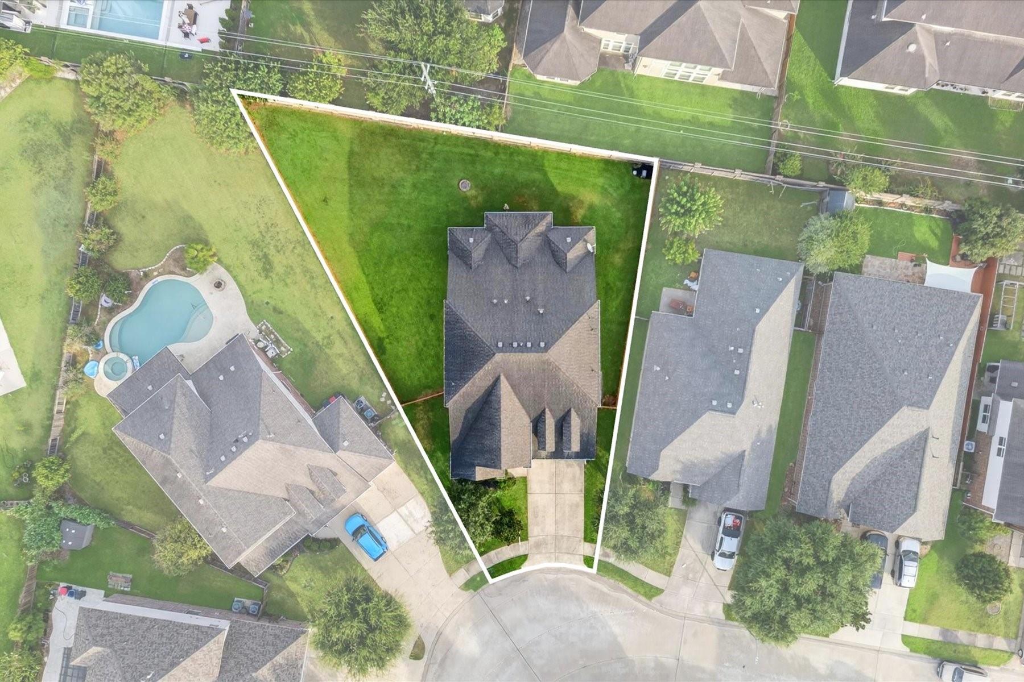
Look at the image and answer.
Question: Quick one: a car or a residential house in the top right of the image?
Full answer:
It is a residential house that can be seen in the top right of the image.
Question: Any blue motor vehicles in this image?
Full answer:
Yes, there is a blue motor vehicle in the image.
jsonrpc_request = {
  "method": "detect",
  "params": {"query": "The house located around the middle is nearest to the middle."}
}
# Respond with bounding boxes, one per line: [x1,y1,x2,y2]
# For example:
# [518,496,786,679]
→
[442,211,602,481]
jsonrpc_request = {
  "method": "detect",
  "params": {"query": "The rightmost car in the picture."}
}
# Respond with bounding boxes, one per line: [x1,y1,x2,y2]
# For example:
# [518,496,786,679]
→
[933,656,993,682]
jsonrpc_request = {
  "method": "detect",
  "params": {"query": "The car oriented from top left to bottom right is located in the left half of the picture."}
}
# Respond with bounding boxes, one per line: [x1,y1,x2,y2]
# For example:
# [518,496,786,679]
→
[346,510,388,563]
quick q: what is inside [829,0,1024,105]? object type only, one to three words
house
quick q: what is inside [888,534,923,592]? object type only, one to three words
car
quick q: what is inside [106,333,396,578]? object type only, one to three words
house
